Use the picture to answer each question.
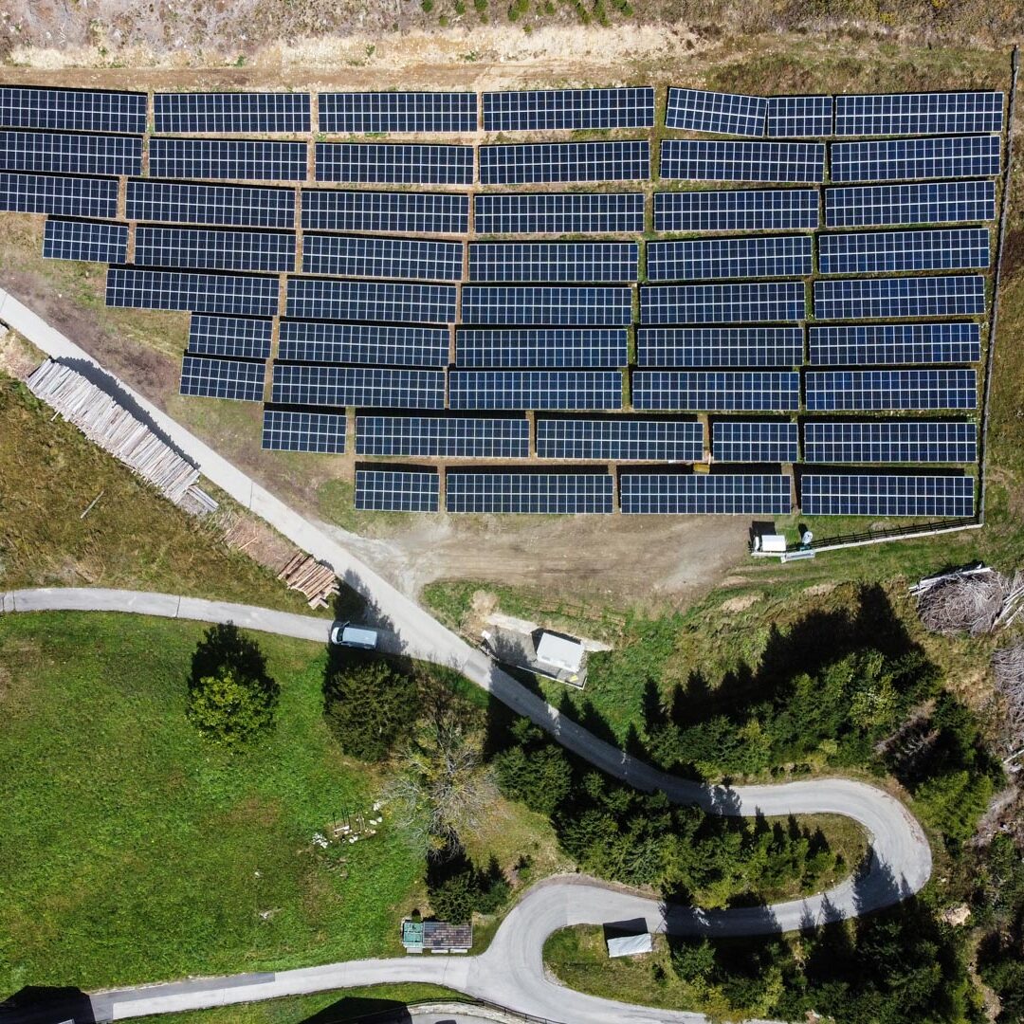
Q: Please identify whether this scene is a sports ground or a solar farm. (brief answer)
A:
solar farm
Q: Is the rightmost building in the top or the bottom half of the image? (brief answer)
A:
bottom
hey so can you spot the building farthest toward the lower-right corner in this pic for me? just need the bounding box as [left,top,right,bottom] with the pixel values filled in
[607,932,651,957]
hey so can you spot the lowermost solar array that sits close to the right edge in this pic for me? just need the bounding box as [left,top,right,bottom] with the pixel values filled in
[801,476,975,516]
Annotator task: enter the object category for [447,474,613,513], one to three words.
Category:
solar array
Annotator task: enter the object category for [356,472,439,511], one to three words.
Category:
solar array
